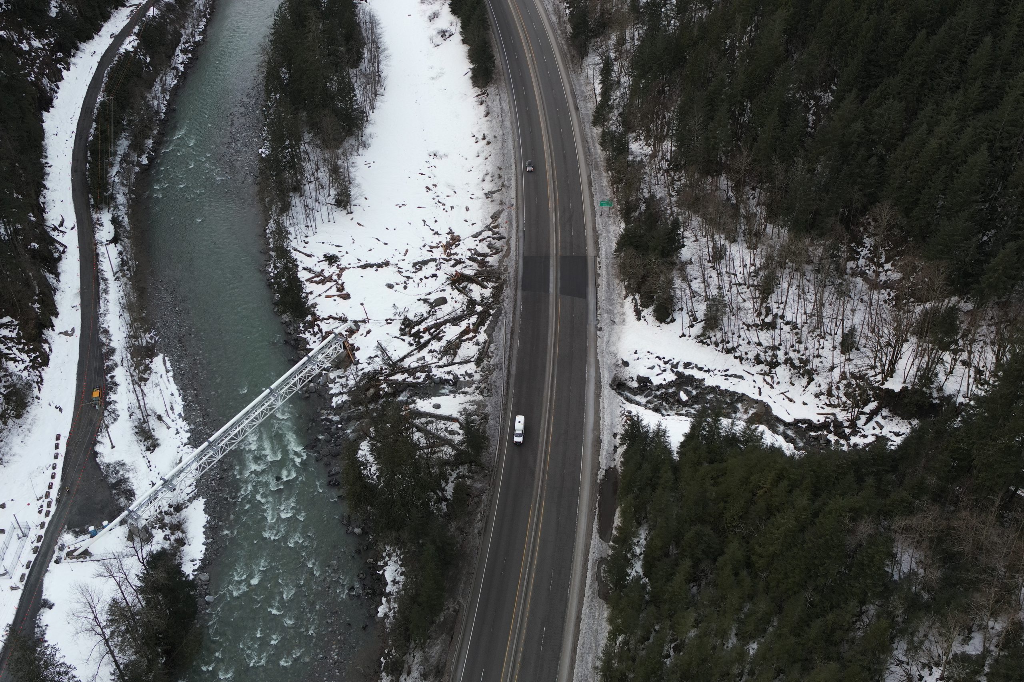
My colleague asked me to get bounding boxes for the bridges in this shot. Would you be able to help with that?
[126,332,349,526]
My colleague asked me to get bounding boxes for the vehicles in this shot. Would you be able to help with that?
[526,160,534,172]
[87,389,103,410]
[513,417,524,444]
